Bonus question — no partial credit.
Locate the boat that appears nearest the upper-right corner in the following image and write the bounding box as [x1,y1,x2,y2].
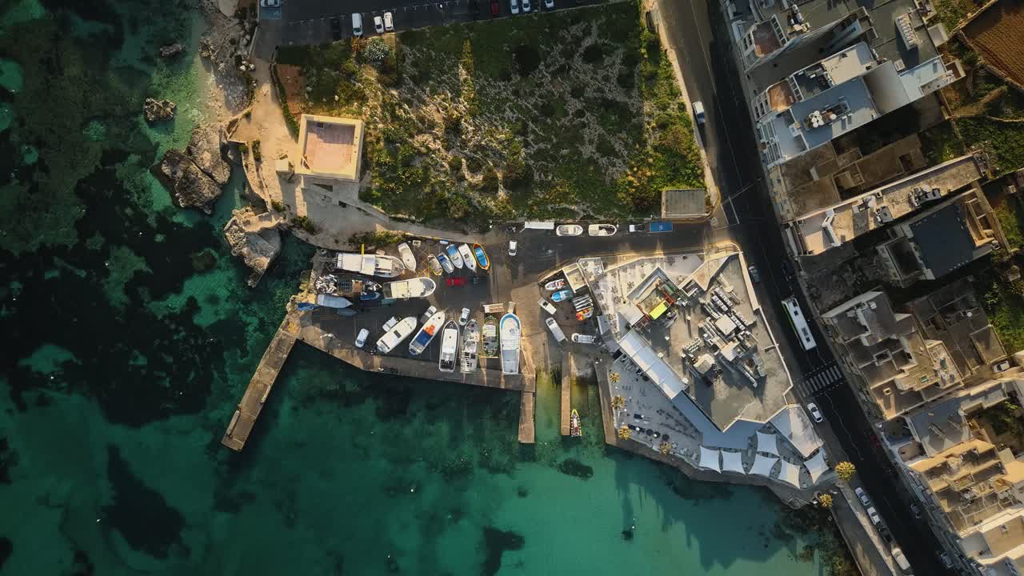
[588,223,617,235]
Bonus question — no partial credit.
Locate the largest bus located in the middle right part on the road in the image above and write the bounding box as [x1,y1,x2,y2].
[779,295,815,350]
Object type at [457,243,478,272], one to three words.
boat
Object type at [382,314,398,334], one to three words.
vehicle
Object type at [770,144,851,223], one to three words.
house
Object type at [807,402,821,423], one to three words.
car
